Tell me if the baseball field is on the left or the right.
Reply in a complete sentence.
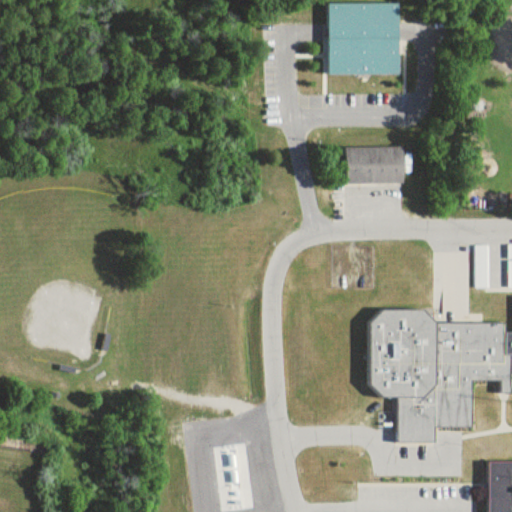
The baseball field is on the left side of the image.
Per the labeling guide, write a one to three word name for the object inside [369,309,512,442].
building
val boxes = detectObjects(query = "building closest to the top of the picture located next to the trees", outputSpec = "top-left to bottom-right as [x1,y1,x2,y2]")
[328,2,401,76]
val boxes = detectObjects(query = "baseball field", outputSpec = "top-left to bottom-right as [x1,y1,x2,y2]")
[0,190,120,366]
